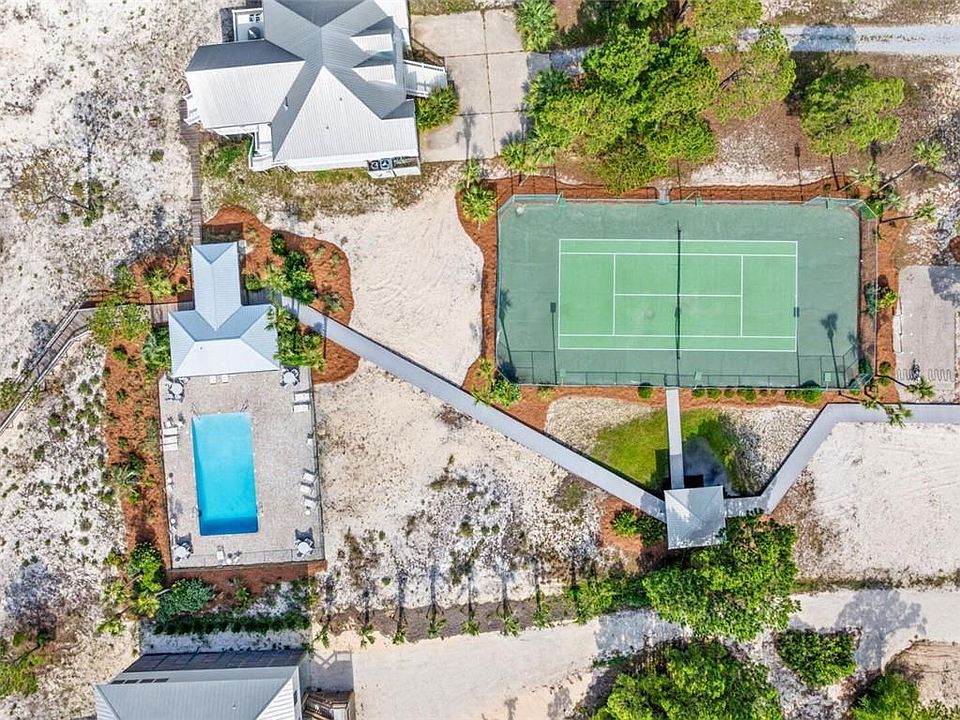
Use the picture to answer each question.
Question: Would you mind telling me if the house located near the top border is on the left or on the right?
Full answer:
The house located near the top border sits on the left side.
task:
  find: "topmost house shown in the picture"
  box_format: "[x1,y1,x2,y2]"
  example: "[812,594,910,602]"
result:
[180,0,442,174]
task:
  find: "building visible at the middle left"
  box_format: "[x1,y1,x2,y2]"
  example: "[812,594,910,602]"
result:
[168,242,283,377]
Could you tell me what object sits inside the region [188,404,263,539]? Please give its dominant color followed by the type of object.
blue swimming pool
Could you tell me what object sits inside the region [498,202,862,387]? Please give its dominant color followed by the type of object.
green tennis court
